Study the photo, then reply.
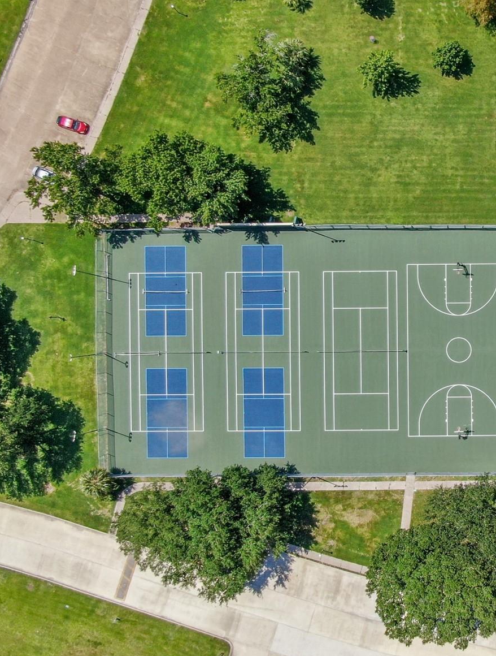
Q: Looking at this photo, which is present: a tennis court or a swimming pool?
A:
tennis court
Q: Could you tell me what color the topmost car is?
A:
red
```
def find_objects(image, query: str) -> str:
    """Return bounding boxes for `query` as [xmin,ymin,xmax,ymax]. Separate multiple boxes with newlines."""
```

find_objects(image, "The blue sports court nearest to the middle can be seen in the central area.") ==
[242,245,284,336]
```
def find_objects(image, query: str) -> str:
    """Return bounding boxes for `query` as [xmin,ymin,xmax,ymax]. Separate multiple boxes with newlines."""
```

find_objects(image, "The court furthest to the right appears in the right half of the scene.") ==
[407,264,496,437]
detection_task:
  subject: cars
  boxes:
[53,112,88,133]
[28,164,59,183]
